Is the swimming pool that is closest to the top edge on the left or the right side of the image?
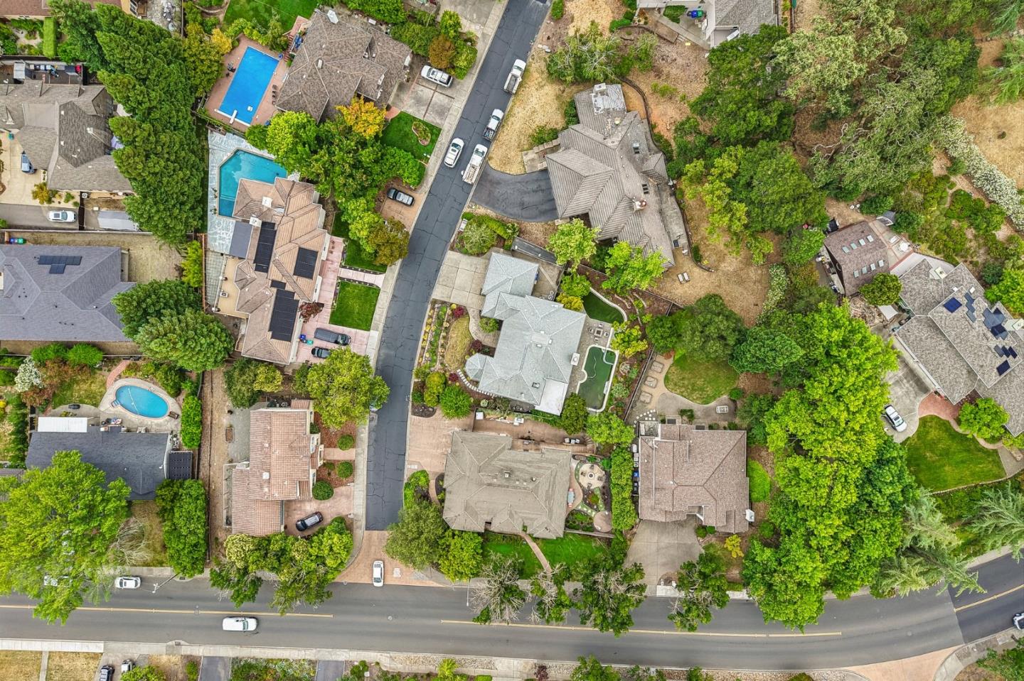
left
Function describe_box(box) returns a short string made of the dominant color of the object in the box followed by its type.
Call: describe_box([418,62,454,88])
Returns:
white car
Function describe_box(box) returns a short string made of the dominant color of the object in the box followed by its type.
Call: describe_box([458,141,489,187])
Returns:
white truck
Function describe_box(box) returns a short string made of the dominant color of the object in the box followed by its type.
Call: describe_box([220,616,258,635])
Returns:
white vehicle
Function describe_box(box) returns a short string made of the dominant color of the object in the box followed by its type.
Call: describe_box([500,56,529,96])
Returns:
white truck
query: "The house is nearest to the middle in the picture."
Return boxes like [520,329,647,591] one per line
[463,251,589,414]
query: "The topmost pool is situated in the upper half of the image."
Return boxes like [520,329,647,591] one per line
[213,41,278,127]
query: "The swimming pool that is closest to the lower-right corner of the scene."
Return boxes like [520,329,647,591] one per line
[575,342,620,412]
